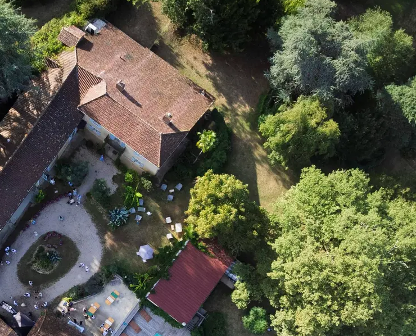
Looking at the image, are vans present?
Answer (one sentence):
No, there appears to be no van in this shot.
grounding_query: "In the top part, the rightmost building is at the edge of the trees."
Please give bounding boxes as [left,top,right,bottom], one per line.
[57,20,217,179]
